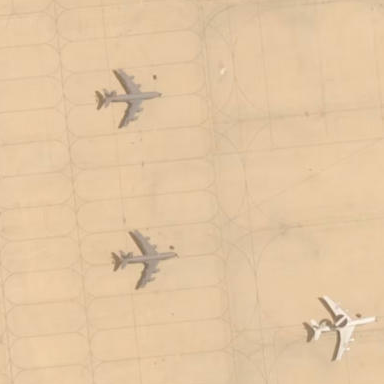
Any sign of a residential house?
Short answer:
No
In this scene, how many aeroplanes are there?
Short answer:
3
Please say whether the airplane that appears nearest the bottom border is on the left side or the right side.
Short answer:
right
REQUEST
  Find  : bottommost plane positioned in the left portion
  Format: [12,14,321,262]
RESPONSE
[119,230,177,288]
